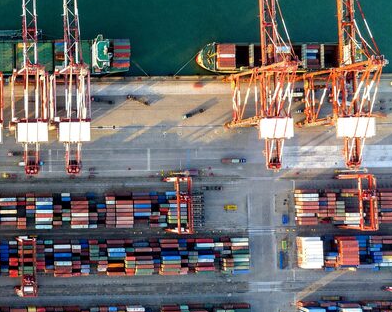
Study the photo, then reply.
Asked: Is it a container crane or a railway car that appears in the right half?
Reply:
container crane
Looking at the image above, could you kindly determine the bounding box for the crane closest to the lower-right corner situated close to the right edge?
[333,175,379,232]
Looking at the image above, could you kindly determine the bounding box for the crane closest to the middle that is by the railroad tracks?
[160,178,194,234]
